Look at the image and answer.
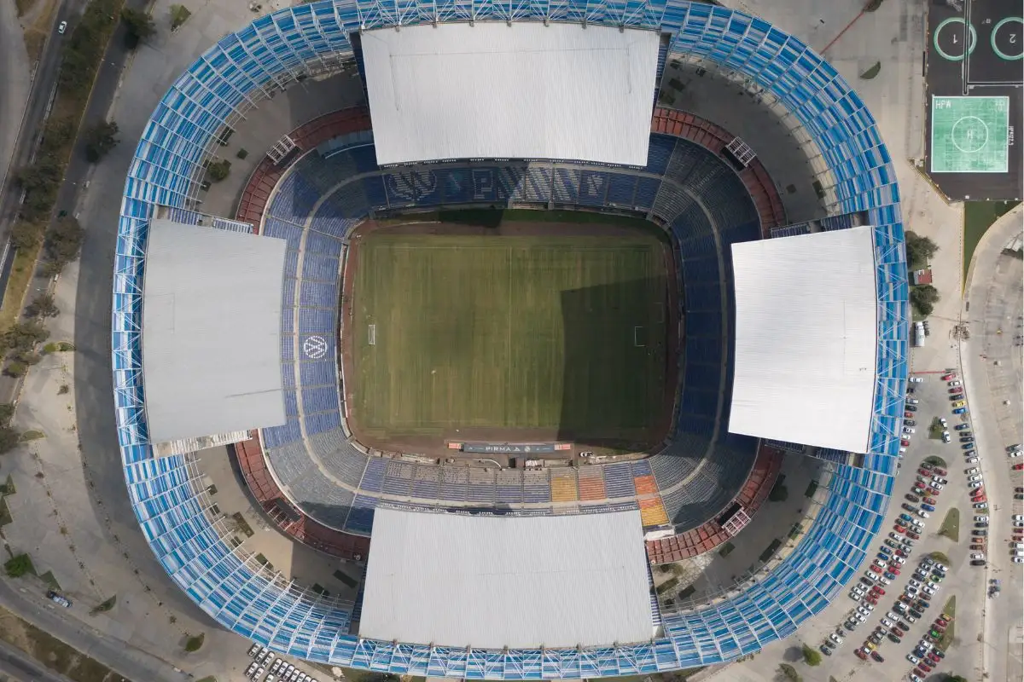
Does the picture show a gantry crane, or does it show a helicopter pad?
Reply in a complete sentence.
Looking from above, you can make out a helicopter pad.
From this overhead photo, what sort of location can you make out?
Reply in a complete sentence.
This image shows a sports ground.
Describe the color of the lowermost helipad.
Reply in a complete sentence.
The color of the lowermost helipad is green.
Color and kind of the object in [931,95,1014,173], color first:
green helipad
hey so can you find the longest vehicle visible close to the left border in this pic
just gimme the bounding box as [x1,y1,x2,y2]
[49,591,69,607]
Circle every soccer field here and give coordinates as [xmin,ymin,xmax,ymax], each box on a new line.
[340,208,680,465]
